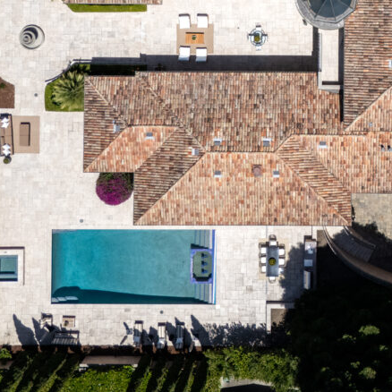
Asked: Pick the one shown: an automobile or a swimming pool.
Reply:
swimming pool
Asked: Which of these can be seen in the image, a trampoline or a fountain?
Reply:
fountain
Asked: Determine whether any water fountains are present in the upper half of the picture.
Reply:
Yes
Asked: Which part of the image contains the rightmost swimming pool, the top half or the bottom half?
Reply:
bottom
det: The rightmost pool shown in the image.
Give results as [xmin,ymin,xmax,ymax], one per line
[47,226,219,309]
